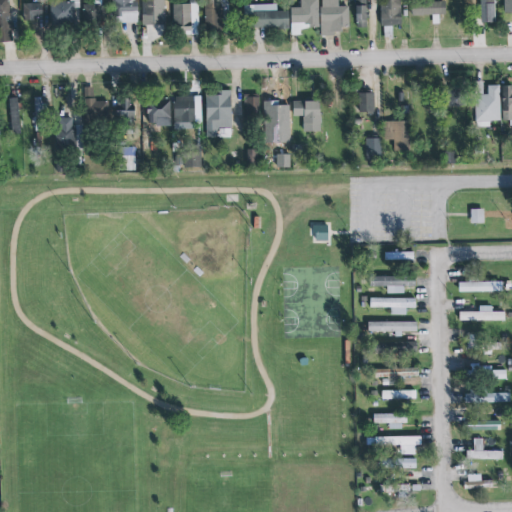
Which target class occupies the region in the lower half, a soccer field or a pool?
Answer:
soccer field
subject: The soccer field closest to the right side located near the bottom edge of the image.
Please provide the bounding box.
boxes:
[188,465,271,512]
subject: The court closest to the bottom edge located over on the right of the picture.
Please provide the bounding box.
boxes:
[284,302,340,338]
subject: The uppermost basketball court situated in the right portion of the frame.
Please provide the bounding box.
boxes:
[284,267,340,302]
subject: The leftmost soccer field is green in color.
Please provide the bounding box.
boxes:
[17,402,138,512]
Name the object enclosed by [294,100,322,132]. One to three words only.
house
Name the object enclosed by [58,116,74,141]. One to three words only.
house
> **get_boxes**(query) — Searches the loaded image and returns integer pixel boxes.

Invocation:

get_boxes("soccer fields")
[17,402,138,512]
[188,465,271,512]
[78,220,238,378]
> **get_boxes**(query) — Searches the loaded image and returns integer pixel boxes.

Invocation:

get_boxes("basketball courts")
[284,302,340,338]
[284,267,340,302]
